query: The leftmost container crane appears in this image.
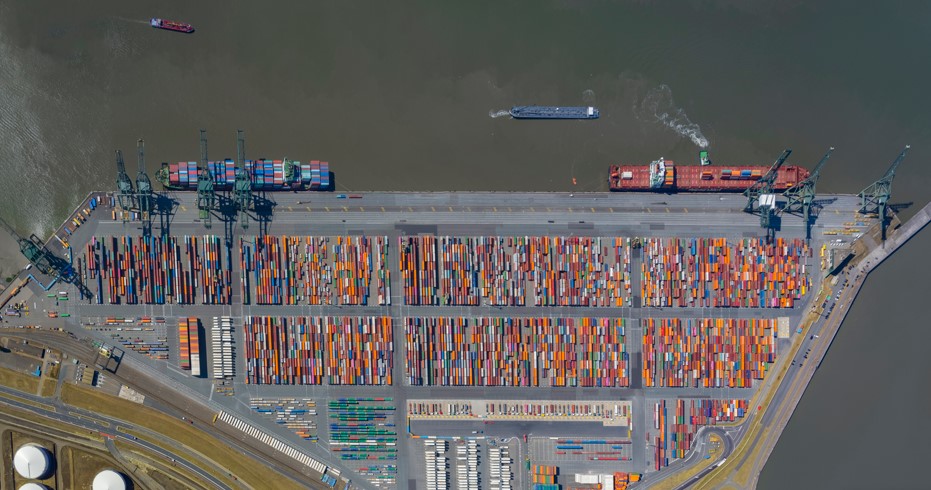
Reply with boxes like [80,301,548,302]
[0,224,64,284]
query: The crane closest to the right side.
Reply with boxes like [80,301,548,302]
[856,145,916,235]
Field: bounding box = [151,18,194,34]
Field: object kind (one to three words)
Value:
ship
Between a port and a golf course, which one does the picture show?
port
